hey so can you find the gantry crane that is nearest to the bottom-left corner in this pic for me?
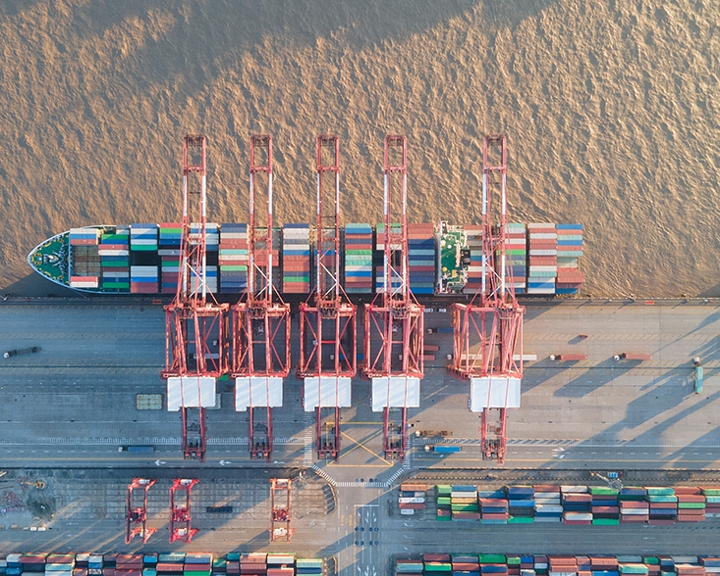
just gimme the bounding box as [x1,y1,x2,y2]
[125,477,158,543]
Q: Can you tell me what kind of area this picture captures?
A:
port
